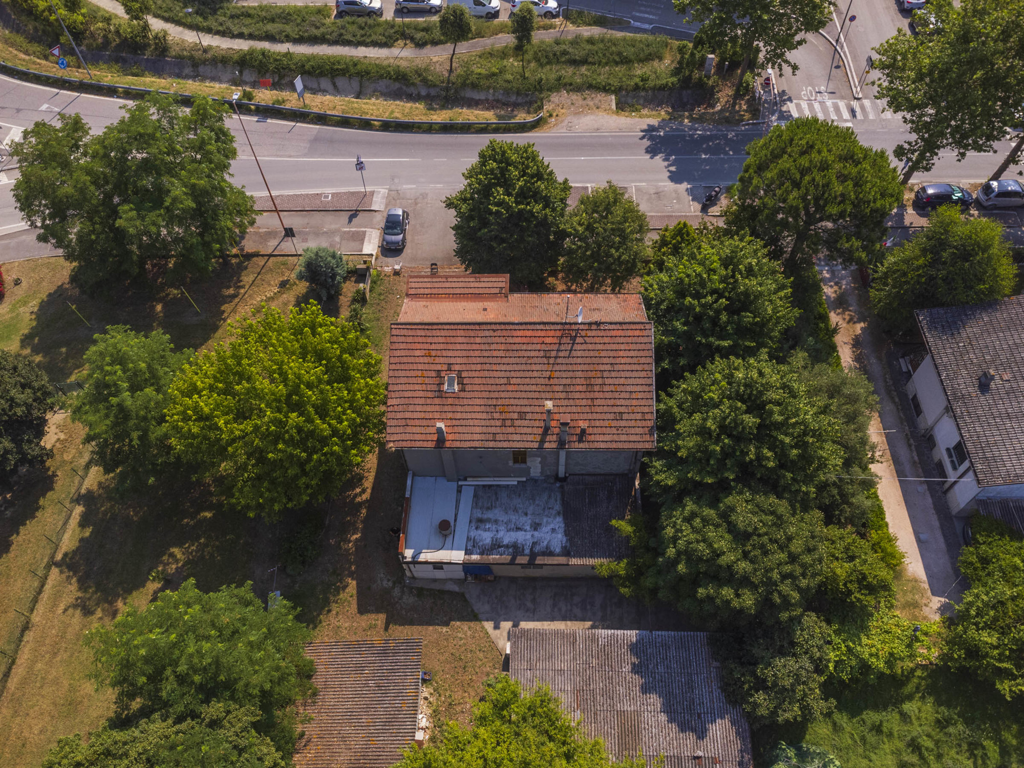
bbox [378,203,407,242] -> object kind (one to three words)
car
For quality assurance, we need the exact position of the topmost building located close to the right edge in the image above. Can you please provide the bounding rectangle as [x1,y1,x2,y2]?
[905,290,1024,516]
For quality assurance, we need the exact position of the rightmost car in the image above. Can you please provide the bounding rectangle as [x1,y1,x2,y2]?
[990,182,1024,210]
